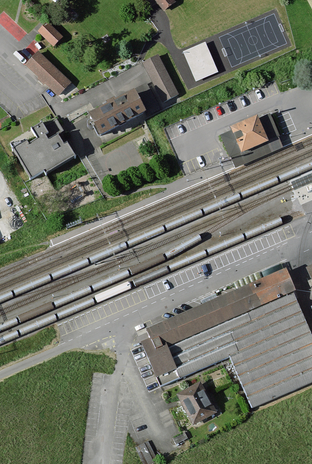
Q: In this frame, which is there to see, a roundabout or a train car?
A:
train car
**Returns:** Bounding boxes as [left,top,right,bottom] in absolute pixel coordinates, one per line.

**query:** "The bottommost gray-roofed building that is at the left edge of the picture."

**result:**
[10,114,76,180]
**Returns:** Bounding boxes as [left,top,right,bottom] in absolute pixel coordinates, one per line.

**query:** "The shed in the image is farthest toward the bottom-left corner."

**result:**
[136,441,158,464]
